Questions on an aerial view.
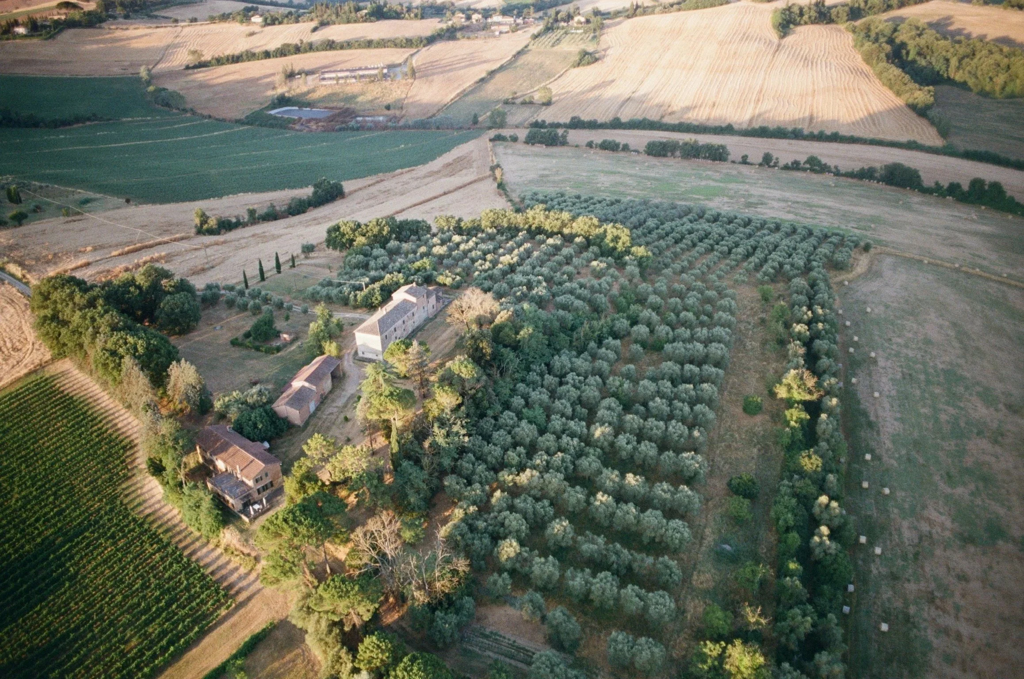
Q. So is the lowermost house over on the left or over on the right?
left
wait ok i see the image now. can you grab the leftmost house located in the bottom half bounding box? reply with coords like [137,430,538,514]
[197,422,284,524]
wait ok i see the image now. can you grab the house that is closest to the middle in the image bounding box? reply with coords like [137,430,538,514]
[353,276,457,363]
